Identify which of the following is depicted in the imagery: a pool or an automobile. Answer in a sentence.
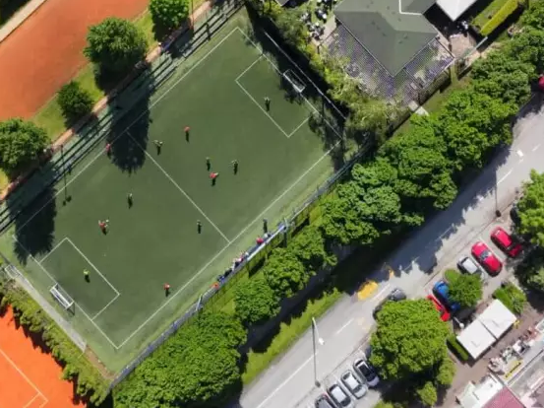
This aerial view contains an automobile.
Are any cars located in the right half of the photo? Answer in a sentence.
Yes, you'll find a car in the right half of the photo.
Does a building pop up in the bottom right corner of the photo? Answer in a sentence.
Yes, a building appears in the bottom right corner of the photo.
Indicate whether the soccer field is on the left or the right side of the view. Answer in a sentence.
You can find the soccer field on the left side of the picture.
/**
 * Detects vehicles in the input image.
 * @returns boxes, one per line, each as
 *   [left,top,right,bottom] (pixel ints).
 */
[490,226,520,256]
[469,241,500,273]
[324,380,356,408]
[339,368,367,398]
[371,287,404,317]
[427,280,460,313]
[312,392,338,408]
[453,254,481,273]
[350,354,382,388]
[419,292,451,323]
